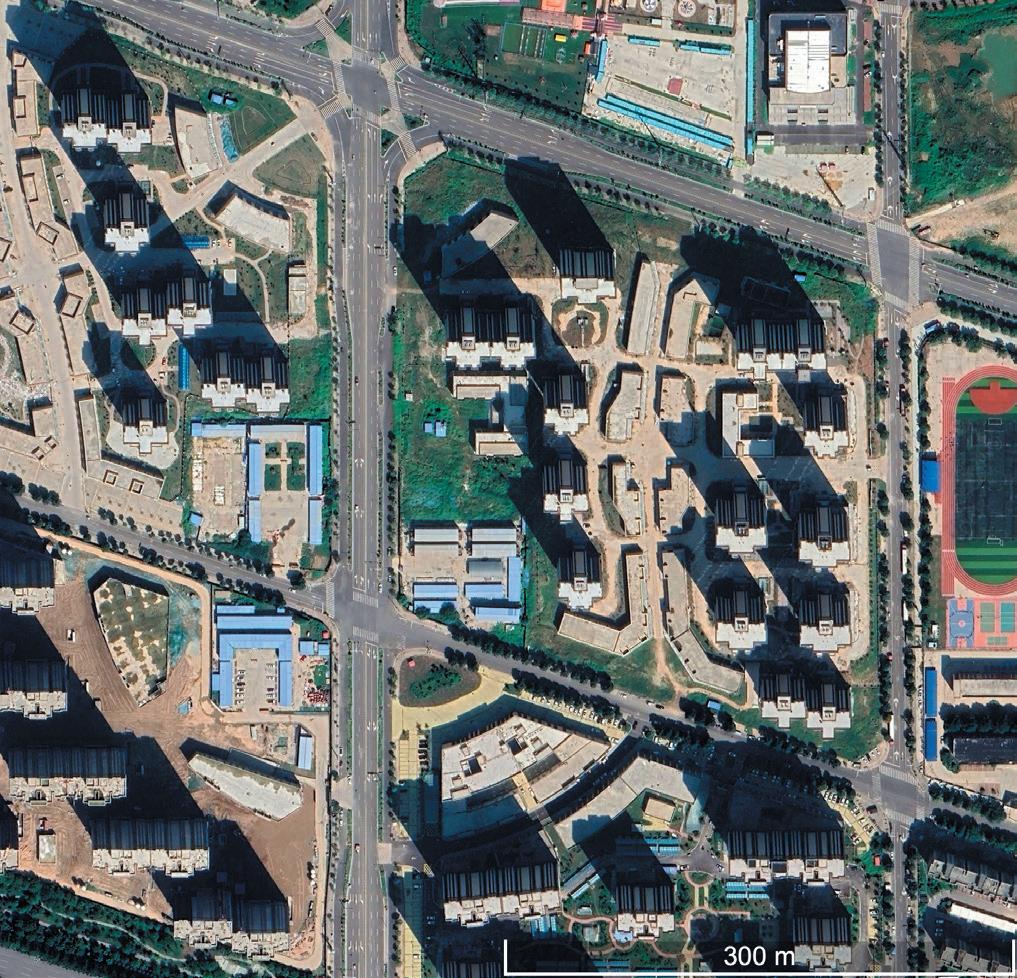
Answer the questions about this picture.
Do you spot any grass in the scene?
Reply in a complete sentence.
Yes, there is grass in the image.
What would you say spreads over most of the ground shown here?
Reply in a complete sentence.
The largest share of the image is taken up by paved ground.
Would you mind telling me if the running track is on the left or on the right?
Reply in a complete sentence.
The running track sits on the right side.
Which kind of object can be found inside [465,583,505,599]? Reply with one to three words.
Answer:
shed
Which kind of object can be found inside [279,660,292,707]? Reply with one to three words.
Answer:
shed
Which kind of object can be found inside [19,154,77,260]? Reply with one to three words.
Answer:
building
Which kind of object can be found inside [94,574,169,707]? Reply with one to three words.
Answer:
building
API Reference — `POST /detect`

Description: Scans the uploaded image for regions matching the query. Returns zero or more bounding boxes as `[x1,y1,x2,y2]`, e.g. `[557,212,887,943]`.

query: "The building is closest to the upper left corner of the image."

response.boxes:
[13,50,40,136]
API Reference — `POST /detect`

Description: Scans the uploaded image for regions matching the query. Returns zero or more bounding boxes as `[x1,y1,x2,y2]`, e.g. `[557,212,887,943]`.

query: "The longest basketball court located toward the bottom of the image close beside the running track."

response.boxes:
[949,600,972,647]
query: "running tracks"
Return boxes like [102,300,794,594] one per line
[943,364,1017,598]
